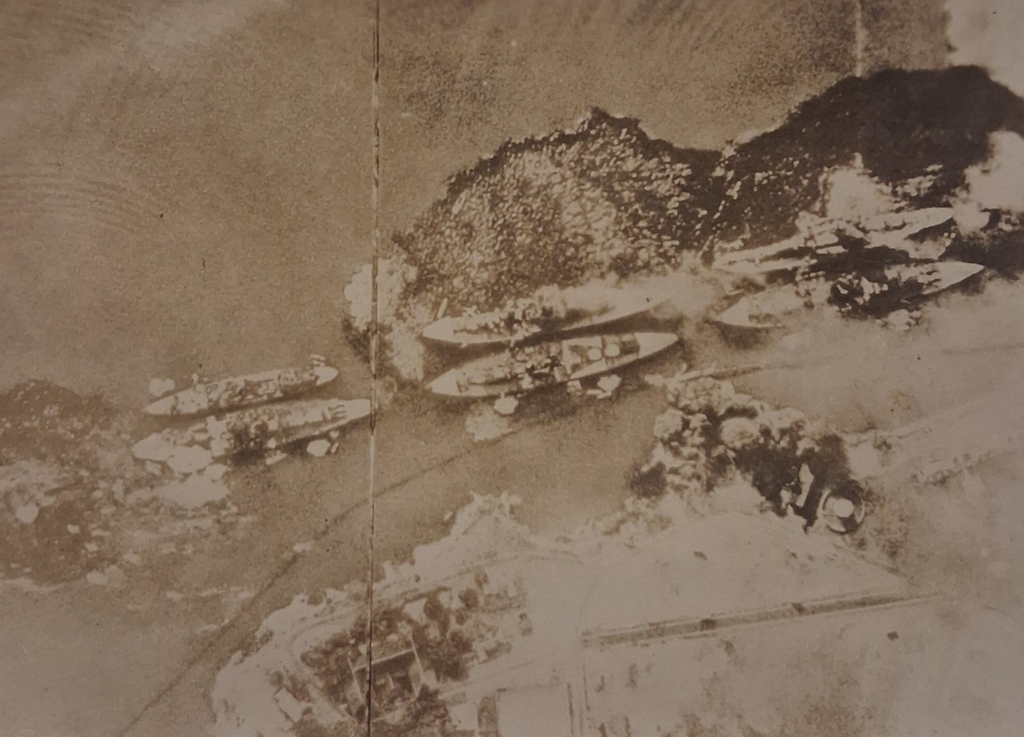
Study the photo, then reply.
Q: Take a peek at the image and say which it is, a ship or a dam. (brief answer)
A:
ship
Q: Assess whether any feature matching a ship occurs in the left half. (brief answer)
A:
Yes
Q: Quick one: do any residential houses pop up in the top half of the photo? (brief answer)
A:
No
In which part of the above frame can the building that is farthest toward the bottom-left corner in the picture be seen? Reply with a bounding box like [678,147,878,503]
[275,685,309,721]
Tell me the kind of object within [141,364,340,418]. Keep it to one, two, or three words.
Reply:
ship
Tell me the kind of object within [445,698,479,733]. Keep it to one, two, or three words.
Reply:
building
